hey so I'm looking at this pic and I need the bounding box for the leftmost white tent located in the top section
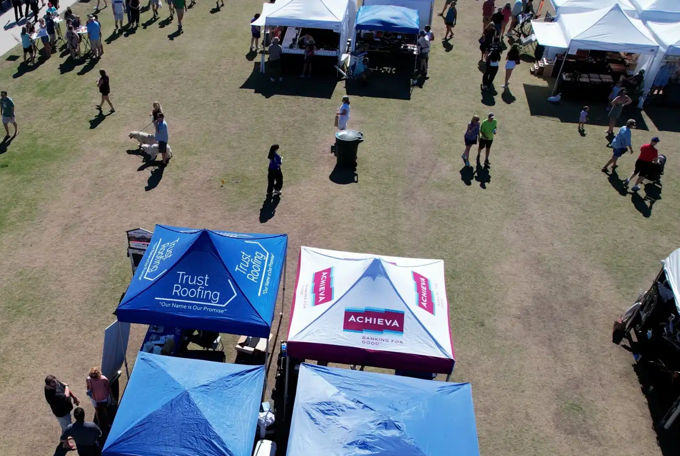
[250,0,348,51]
